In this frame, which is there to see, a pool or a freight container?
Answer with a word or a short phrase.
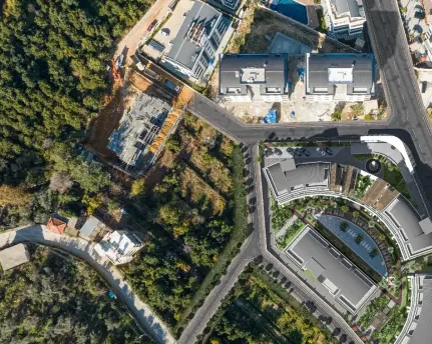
pool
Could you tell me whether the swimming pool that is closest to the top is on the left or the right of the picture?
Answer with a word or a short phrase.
right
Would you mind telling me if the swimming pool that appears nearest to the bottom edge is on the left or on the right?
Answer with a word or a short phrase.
right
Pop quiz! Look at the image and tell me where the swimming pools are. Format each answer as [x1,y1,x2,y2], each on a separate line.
[315,213,387,278]
[269,0,308,26]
